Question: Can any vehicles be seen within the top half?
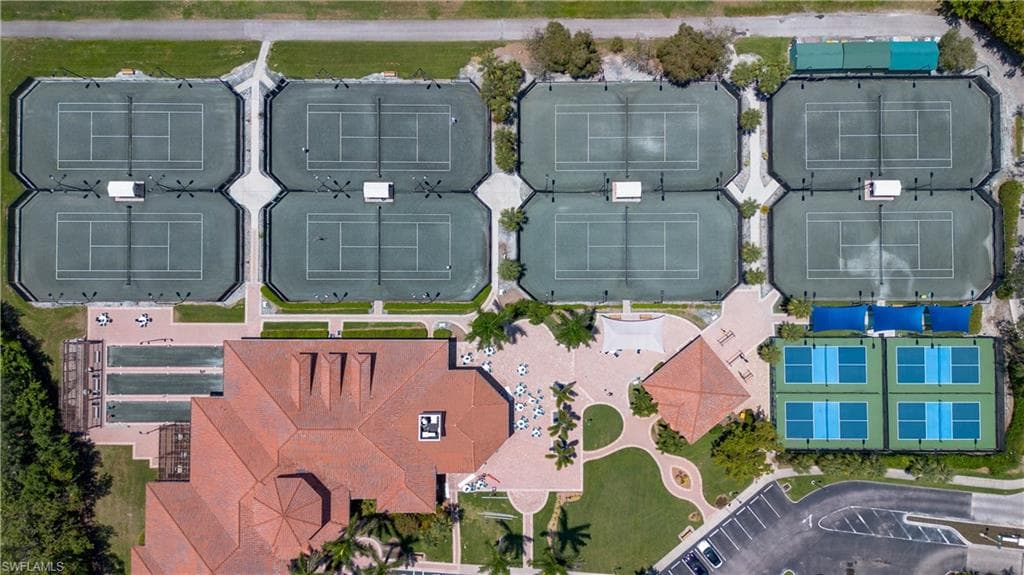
No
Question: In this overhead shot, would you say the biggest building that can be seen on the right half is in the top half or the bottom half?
bottom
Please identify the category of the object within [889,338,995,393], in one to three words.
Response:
sports court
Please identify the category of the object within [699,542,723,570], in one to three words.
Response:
car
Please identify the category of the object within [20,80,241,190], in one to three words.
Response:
tennis court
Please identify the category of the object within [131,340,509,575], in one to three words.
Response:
building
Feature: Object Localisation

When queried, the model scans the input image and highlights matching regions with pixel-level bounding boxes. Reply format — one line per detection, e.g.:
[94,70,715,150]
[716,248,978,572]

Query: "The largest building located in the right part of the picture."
[642,334,751,444]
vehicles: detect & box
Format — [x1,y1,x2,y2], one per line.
[699,542,723,570]
[684,554,707,575]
